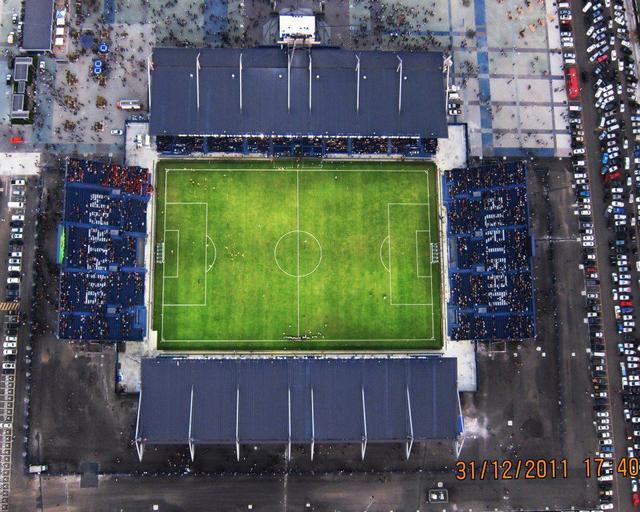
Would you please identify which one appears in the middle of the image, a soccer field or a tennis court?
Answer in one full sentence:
You can see a soccer field in the middle of the image.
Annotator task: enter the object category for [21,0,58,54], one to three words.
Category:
building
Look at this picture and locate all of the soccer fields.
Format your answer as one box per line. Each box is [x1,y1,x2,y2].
[152,160,442,351]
